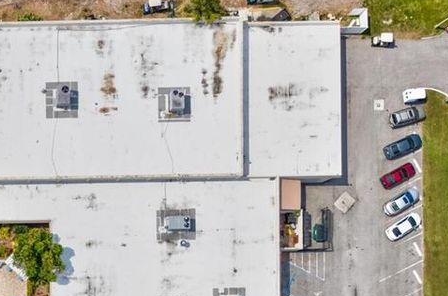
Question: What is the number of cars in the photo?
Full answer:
Looking from above, you can make out 5 cars.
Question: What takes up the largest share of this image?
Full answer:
For the most part, this view shows buildings.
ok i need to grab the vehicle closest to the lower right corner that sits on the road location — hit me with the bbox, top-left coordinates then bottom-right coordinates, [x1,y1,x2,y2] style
[383,213,423,242]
